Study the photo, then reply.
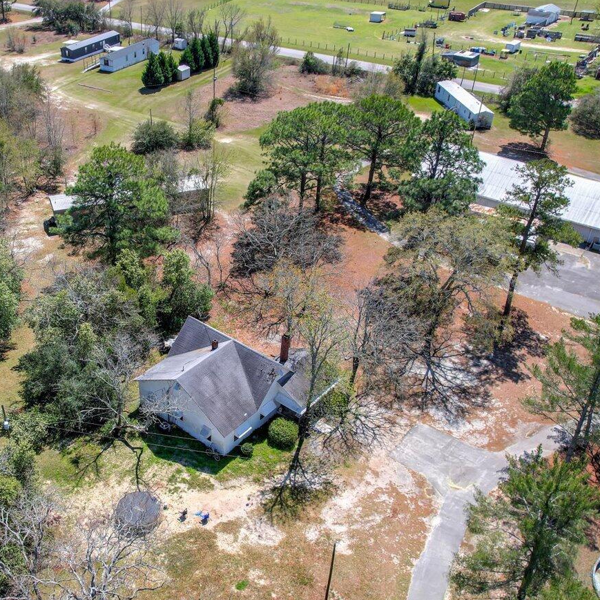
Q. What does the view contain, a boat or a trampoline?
trampoline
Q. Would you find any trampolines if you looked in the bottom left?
Yes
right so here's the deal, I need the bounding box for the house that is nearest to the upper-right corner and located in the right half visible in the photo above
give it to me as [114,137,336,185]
[529,3,564,24]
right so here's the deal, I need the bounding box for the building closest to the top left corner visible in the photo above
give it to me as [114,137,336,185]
[60,32,113,62]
